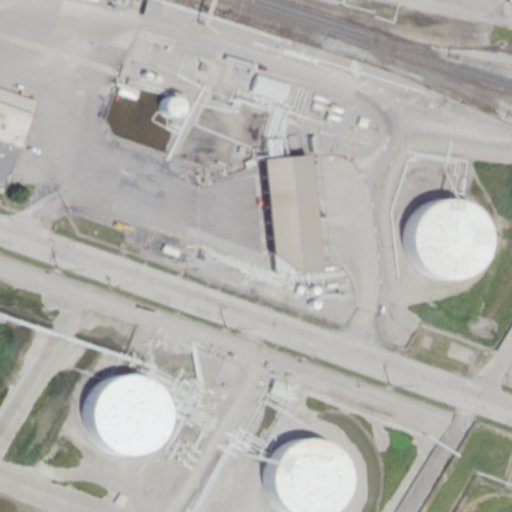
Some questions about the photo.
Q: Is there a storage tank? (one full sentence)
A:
Yes, the image includes a storage tank.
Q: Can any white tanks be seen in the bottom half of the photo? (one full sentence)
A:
Yes, a white tank shows up in the bottom half of the photo.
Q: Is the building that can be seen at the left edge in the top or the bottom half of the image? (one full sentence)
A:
The top half of the photo is where the building that can be seen at the left edge is.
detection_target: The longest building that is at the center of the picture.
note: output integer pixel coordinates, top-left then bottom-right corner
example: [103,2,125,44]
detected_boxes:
[260,156,324,272]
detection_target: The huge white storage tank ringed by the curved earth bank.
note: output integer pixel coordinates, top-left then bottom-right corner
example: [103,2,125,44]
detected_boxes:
[261,434,358,512]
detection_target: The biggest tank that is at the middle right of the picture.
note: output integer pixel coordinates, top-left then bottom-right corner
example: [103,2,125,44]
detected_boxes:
[400,196,499,282]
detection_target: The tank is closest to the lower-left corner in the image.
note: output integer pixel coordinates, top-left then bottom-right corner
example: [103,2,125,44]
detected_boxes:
[80,371,178,457]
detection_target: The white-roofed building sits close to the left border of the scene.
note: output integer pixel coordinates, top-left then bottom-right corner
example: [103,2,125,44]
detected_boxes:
[0,88,36,147]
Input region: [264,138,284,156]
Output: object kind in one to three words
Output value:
shed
